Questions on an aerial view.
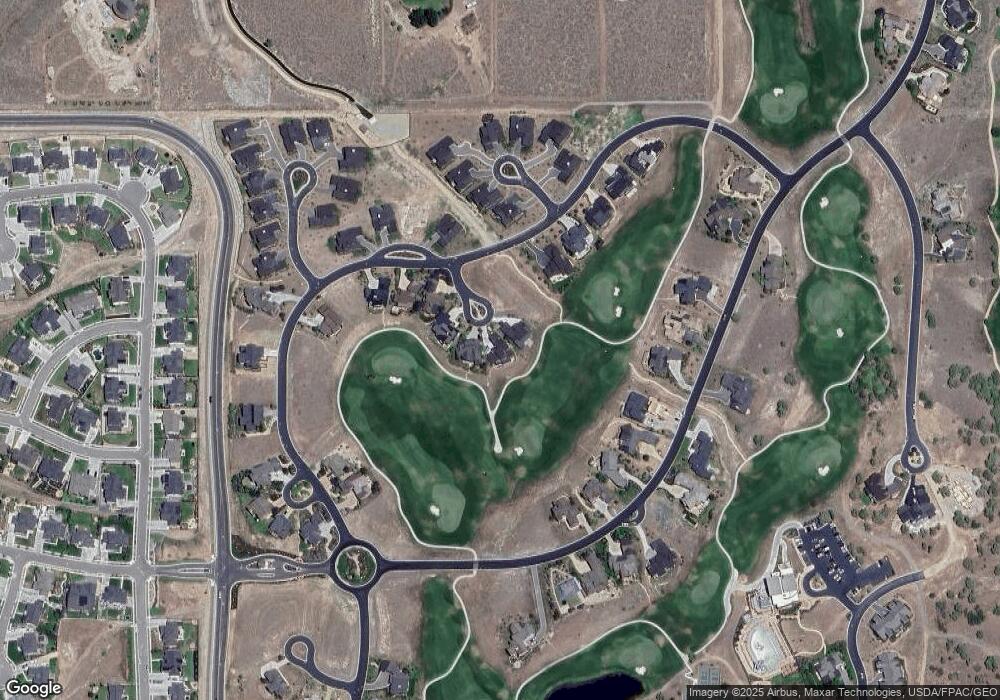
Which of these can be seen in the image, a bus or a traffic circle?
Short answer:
traffic circle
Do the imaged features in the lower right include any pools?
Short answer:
Yes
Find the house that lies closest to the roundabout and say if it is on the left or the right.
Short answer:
left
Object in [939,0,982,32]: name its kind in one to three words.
house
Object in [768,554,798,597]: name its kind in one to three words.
building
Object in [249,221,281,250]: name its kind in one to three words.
house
